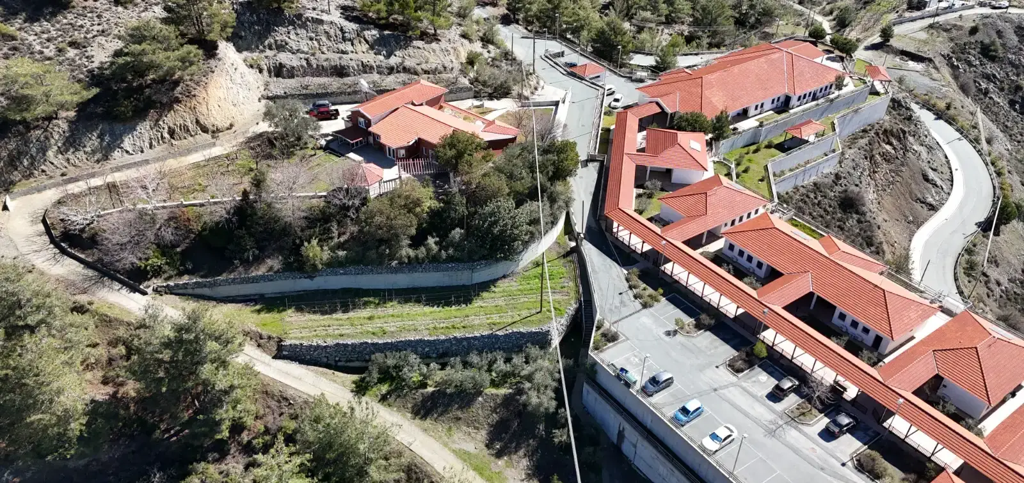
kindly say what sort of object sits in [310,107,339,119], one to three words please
vehicle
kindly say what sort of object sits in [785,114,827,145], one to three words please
building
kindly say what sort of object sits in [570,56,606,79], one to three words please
building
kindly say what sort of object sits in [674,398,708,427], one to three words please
car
